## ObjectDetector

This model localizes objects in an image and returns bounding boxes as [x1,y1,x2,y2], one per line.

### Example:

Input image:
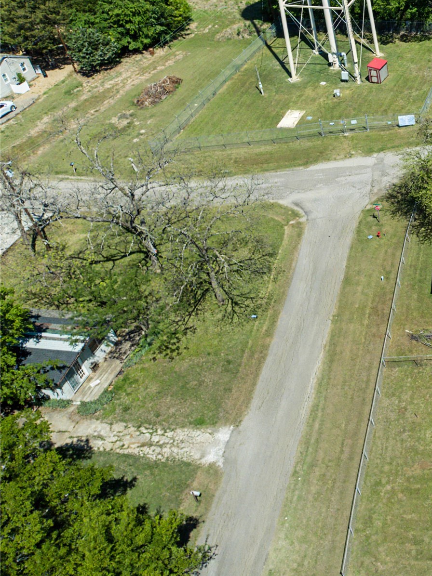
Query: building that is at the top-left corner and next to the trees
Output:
[0,52,38,98]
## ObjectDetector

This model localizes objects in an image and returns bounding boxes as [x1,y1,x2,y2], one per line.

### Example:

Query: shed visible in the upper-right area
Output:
[366,58,388,84]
